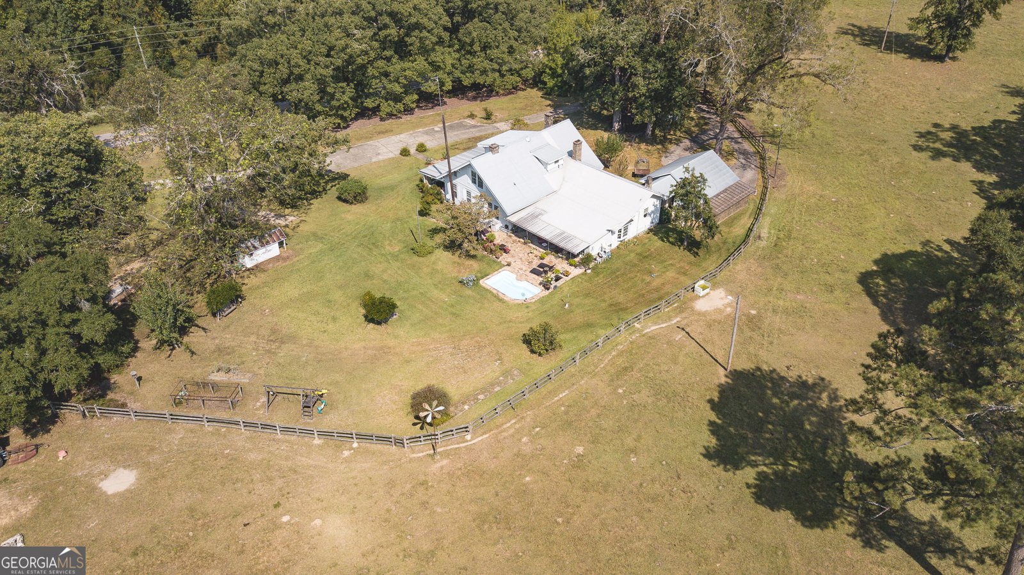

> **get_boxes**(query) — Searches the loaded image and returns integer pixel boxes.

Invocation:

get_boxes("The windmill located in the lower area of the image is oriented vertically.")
[420,400,447,457]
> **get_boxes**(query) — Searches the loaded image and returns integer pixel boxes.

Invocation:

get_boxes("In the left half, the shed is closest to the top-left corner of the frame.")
[232,228,291,267]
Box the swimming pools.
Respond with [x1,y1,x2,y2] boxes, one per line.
[480,267,545,302]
